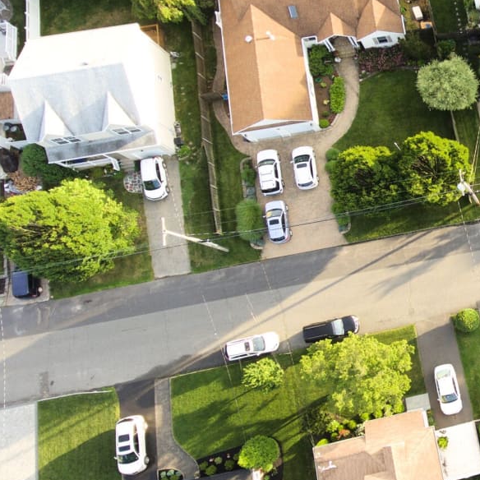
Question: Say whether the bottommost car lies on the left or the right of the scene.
left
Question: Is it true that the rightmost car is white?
Yes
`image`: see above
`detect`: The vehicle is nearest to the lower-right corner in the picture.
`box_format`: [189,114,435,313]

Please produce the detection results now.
[434,363,462,417]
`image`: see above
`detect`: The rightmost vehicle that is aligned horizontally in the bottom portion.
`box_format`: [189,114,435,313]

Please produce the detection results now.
[301,315,362,346]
